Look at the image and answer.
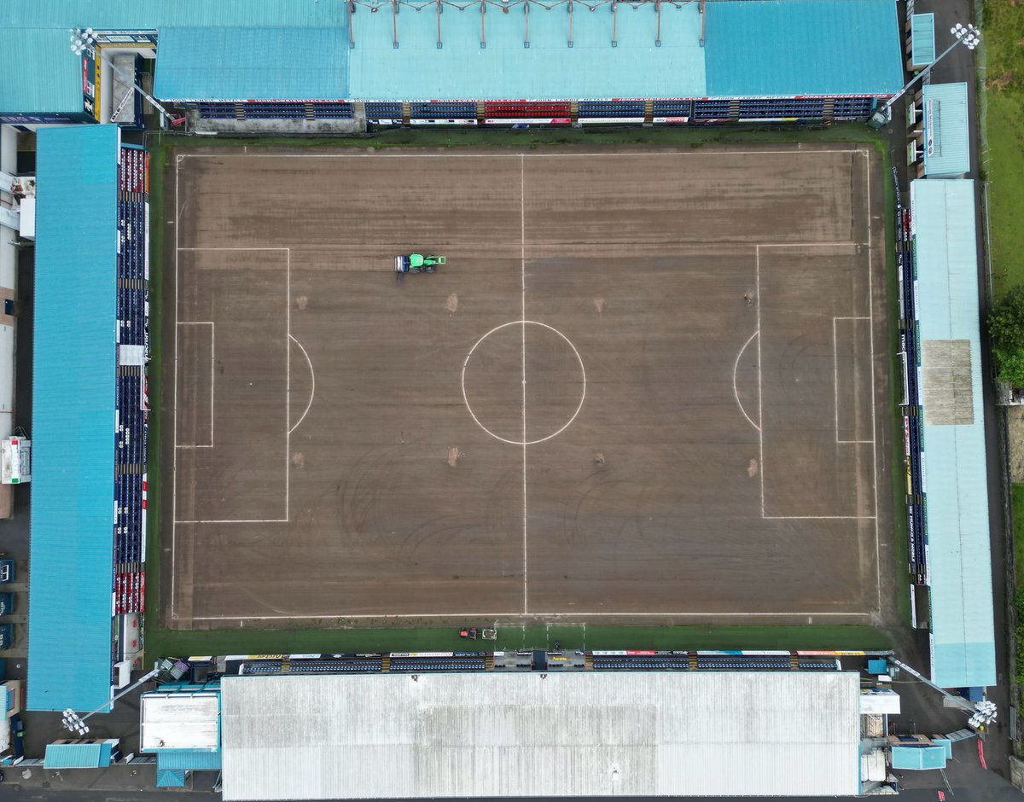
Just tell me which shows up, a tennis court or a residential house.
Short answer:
residential house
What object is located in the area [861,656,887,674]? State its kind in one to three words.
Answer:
shed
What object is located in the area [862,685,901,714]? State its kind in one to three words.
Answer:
building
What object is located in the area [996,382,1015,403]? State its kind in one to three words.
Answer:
shed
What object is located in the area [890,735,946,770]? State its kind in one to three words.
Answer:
house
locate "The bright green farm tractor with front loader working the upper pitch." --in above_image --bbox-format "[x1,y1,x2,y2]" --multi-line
[407,256,446,275]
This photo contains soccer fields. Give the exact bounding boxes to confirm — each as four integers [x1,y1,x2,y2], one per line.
[137,128,914,661]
